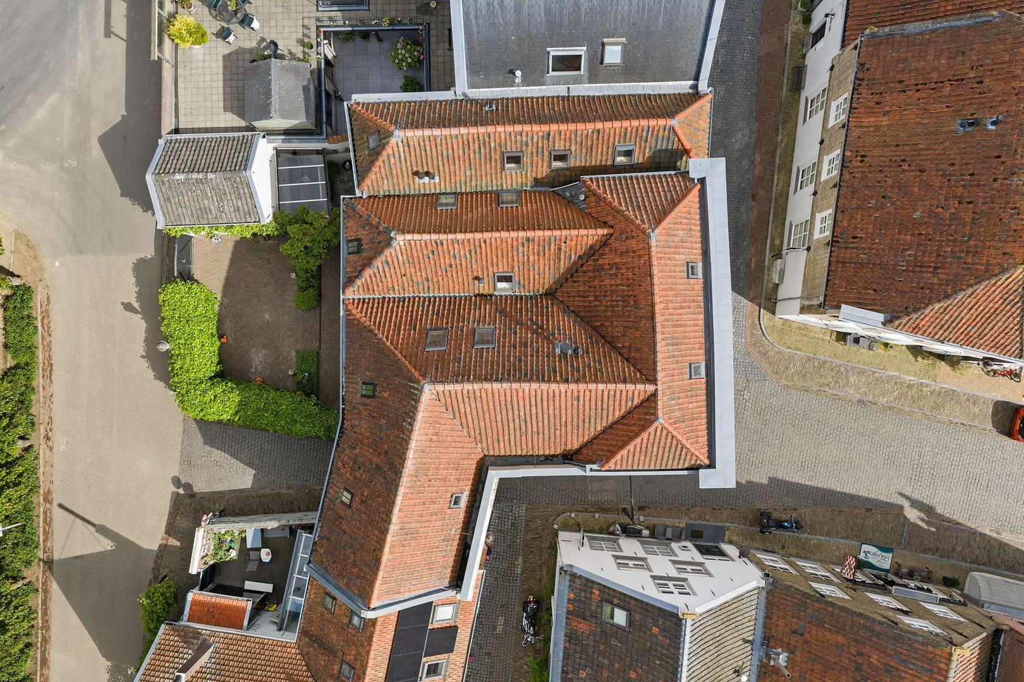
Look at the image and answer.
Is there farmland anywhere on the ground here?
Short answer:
No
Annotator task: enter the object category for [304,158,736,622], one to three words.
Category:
house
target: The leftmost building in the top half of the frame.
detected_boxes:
[145,129,276,229]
